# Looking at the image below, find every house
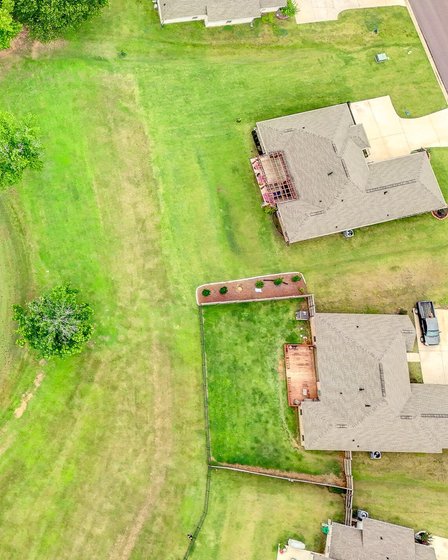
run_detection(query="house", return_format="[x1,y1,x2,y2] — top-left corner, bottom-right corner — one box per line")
[254,103,448,246]
[157,0,286,28]
[298,312,448,453]
[310,515,437,560]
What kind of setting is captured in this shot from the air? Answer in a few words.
residential area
